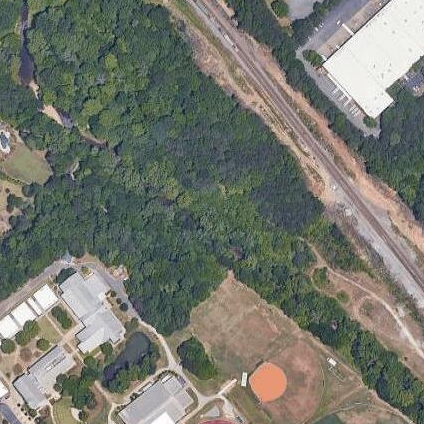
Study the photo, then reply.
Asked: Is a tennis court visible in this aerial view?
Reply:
No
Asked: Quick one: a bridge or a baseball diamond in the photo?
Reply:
baseball diamond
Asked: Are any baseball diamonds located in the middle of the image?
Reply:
No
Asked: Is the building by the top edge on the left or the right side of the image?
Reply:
right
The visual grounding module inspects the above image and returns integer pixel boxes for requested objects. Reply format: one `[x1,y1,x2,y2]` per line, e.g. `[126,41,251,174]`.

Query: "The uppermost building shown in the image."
[322,0,424,117]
